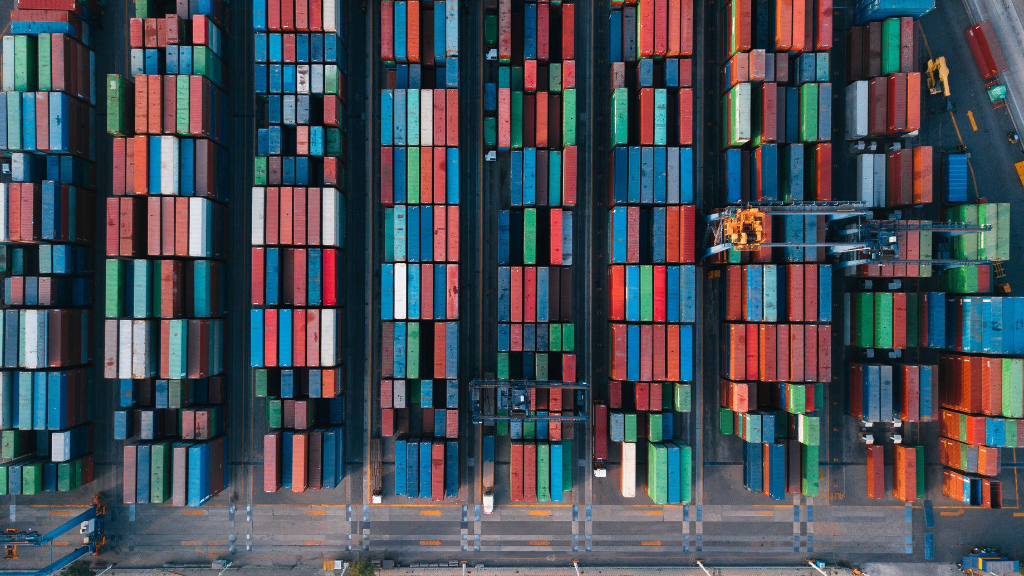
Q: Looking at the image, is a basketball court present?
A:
No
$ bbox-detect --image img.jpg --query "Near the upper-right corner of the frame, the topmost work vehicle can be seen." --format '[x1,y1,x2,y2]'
[925,54,960,110]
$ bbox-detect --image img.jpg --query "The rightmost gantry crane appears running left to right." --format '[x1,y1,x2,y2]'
[834,220,992,278]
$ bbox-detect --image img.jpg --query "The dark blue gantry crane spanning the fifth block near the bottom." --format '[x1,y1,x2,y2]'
[467,359,592,424]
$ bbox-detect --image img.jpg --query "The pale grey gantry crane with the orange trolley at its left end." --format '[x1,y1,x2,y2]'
[702,197,866,263]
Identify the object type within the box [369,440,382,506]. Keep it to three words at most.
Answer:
vehicle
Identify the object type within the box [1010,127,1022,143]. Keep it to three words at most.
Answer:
vehicle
